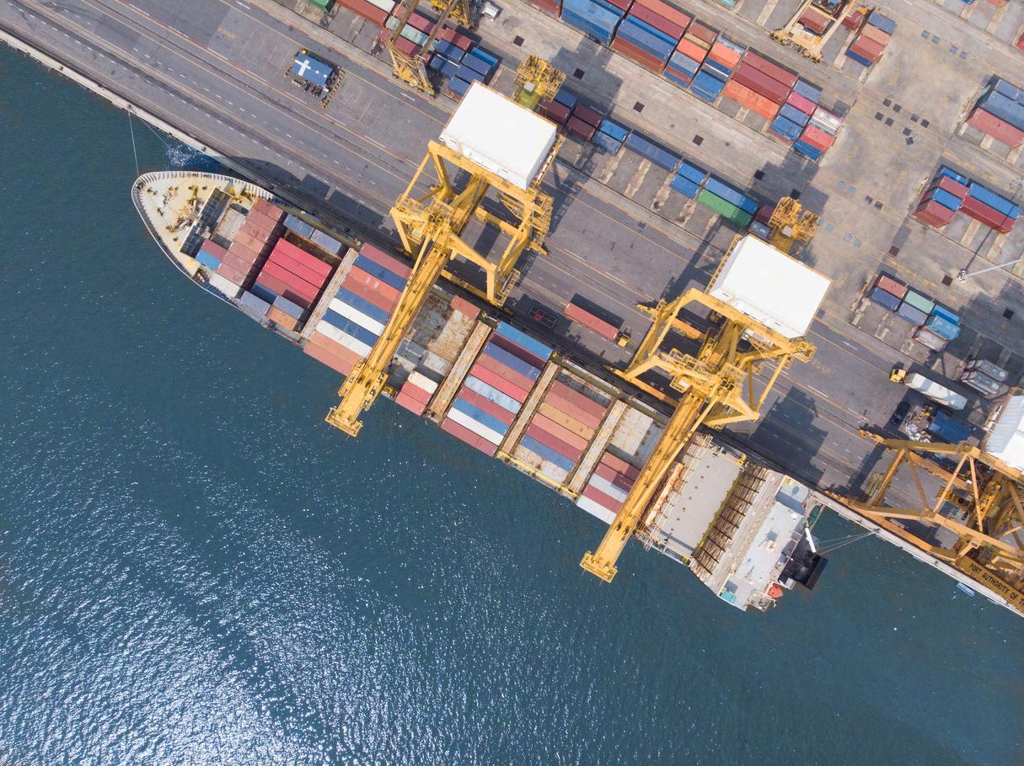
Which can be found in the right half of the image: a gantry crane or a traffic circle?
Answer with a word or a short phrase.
gantry crane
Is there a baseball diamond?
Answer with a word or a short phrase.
No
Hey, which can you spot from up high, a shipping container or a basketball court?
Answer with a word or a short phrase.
shipping container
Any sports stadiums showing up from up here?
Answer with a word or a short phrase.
No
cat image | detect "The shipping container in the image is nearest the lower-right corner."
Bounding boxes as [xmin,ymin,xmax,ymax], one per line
[907,374,966,410]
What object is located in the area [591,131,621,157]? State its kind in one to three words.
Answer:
shipping container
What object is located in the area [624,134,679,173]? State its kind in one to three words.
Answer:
shipping container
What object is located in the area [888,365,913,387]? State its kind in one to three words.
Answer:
truck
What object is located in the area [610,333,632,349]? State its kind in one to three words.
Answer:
vehicle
